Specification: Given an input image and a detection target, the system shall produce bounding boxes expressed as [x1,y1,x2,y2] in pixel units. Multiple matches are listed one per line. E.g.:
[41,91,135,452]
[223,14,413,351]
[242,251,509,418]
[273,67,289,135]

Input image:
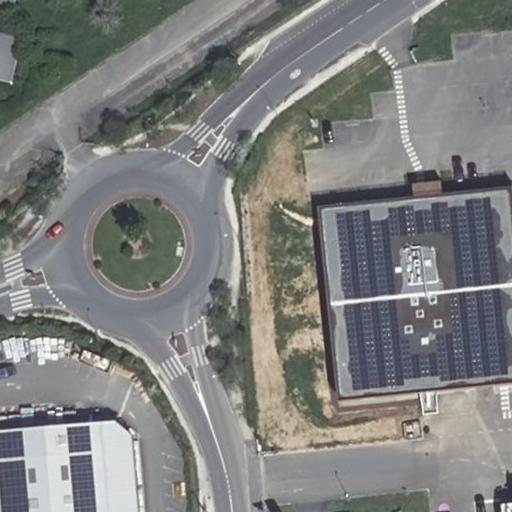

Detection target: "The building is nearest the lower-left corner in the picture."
[0,421,146,512]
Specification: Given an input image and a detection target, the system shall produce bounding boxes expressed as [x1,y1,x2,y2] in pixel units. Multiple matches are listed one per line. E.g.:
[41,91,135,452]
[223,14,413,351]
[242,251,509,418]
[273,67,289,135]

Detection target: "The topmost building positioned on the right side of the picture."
[318,180,512,400]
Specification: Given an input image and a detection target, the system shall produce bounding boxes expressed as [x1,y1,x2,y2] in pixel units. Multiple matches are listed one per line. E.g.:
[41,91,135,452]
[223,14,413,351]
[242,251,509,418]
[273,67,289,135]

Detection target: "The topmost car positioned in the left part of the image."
[46,222,66,238]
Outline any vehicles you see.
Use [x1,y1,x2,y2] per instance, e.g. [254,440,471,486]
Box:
[0,366,16,376]
[454,158,464,182]
[322,120,334,142]
[476,496,486,512]
[468,164,478,184]
[46,222,66,238]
